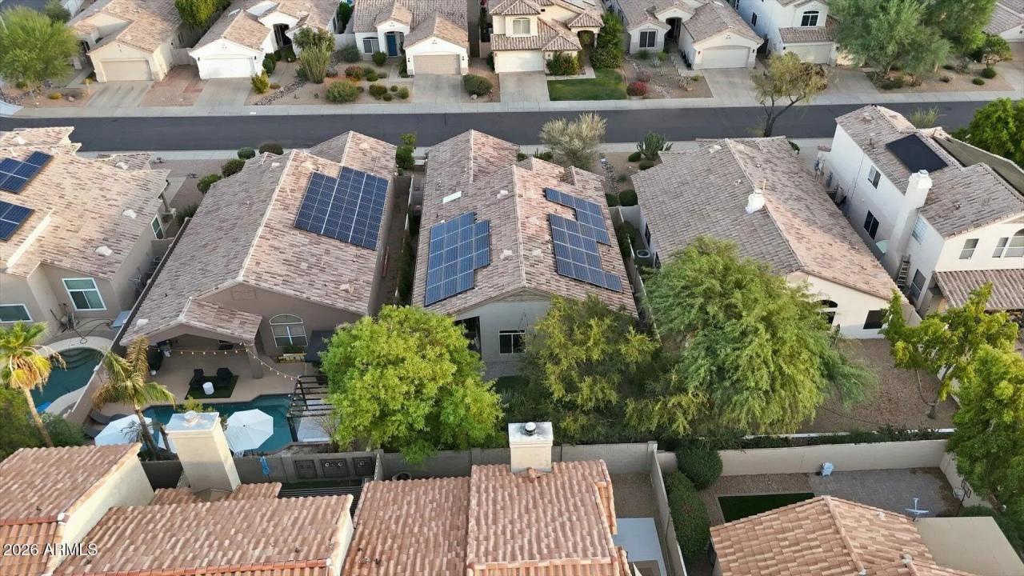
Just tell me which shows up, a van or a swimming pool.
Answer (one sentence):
The image shows a swimming pool.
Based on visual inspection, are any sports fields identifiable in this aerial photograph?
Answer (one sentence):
No, the frame has no sports field in it.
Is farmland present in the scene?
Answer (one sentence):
No, farmland can't be seen anywhere here.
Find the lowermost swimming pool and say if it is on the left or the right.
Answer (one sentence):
It is on the left.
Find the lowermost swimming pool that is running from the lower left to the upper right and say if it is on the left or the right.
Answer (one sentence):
The lowermost swimming pool that is running from the lower left to the upper right is on the left side of the image.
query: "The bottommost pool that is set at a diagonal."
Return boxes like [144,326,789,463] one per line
[0,345,102,427]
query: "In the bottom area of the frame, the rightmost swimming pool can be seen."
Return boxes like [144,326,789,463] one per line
[133,391,303,456]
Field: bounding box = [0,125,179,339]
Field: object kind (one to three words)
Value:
house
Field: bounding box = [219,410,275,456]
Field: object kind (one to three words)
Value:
umbrella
